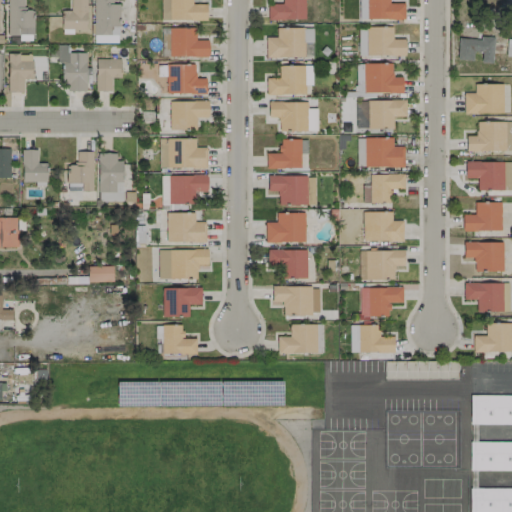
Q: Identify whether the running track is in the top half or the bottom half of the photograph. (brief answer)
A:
bottom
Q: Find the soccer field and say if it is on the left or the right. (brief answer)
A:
left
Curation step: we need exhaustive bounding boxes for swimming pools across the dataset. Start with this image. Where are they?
[316,222,332,242]
[150,38,163,53]
[28,189,43,198]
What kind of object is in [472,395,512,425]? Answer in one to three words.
building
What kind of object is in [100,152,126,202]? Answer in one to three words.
house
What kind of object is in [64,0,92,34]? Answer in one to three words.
house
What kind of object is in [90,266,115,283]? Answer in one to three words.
barn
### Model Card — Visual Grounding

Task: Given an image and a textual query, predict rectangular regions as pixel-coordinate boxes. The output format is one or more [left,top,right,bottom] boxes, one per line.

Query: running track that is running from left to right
[0,407,306,512]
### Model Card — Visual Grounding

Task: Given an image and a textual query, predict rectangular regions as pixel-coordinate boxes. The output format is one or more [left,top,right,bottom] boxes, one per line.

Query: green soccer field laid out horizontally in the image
[0,418,296,512]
